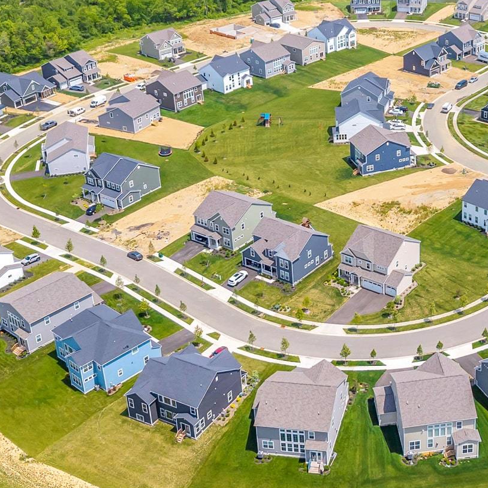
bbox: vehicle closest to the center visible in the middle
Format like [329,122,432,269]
[229,266,246,282]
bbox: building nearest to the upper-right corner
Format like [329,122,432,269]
[453,0,488,20]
